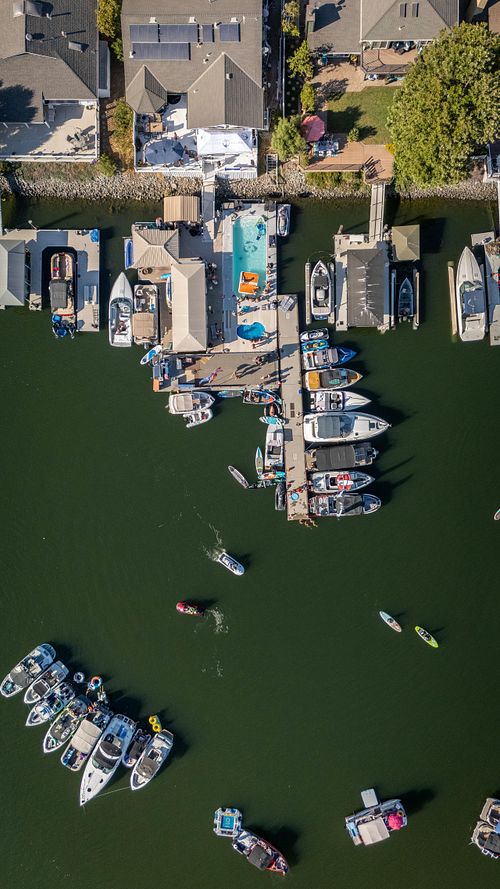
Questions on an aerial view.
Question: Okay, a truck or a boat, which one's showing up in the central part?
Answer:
boat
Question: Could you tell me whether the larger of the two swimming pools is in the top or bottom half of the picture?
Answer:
top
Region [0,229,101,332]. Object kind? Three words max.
pier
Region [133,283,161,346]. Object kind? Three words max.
boat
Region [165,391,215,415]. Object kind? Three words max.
boat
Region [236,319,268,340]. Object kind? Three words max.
swimming pool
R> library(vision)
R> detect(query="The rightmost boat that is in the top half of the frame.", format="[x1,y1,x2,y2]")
[453,245,486,347]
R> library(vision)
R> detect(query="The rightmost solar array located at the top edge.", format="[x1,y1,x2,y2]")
[220,23,240,42]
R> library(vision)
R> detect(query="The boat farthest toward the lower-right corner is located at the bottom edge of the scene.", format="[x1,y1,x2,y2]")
[464,819,500,864]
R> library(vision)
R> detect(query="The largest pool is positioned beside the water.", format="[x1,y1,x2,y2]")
[221,203,279,352]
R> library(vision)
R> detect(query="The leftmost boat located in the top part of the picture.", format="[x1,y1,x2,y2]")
[49,249,76,330]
